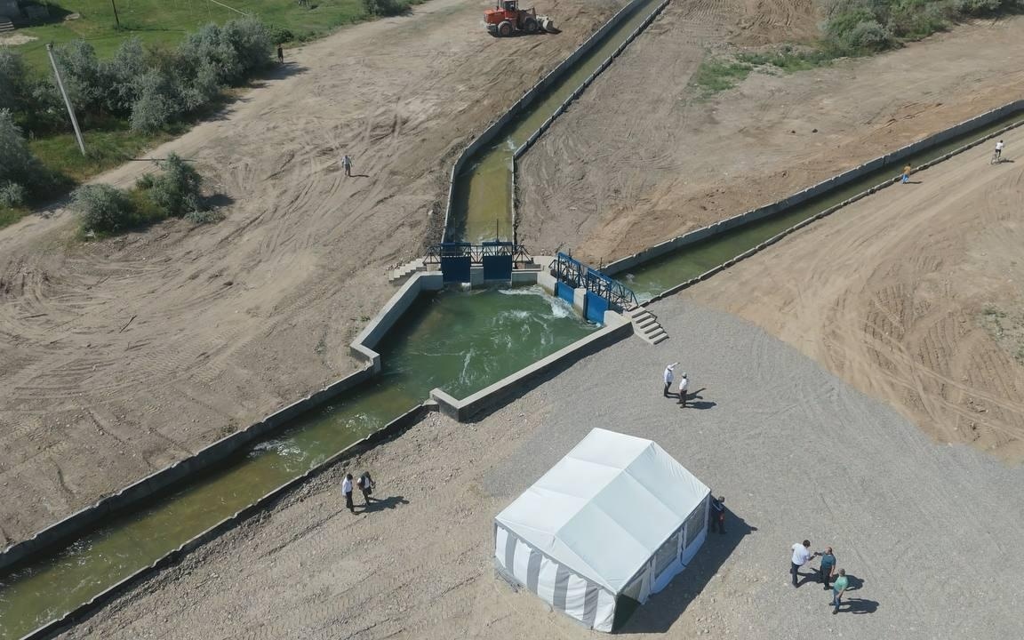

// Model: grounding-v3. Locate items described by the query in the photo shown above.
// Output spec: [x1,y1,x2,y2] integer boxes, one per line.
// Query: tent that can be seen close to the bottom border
[491,434,710,635]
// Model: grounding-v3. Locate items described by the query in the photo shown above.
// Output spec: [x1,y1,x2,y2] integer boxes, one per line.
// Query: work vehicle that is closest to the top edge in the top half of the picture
[487,0,562,38]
